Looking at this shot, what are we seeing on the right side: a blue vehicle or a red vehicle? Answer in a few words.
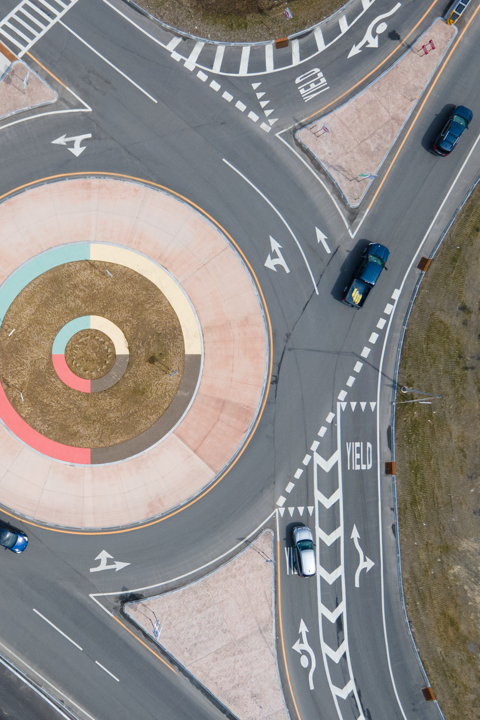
blue vehicle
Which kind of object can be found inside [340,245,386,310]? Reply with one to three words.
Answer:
truck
